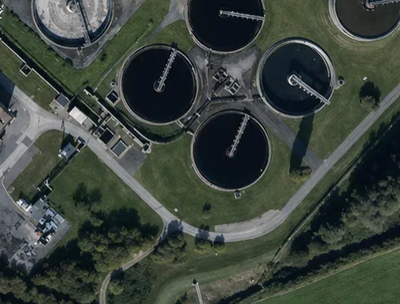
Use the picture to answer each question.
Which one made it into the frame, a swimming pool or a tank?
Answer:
tank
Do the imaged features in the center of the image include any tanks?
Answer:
Yes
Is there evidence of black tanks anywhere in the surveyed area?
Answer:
Yes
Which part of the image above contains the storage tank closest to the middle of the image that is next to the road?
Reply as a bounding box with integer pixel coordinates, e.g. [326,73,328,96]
[189,110,272,193]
